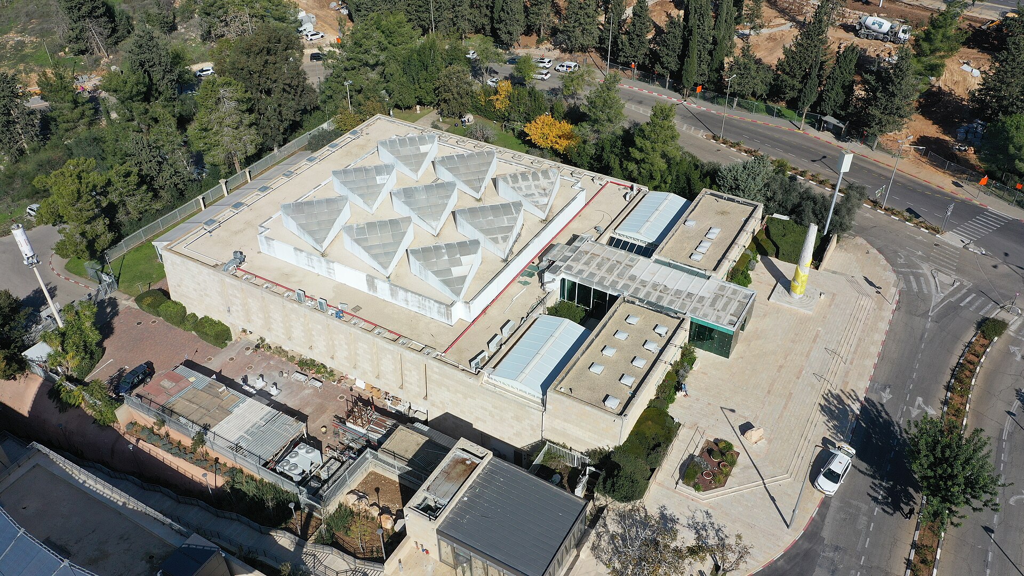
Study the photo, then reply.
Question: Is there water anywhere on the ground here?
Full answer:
No, there's no water in this view.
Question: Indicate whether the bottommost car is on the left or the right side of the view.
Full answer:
You can find the bottommost car on the right side of the picture.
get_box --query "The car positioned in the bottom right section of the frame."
[817,440,861,495]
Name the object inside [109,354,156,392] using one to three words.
car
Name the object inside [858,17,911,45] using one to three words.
truck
